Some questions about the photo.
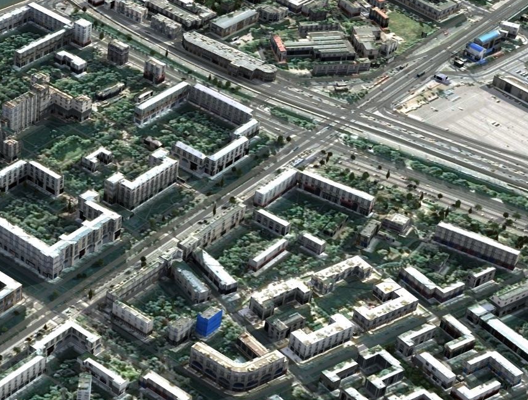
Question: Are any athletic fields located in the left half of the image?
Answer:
No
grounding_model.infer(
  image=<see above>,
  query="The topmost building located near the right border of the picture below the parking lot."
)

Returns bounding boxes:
[433,218,520,271]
